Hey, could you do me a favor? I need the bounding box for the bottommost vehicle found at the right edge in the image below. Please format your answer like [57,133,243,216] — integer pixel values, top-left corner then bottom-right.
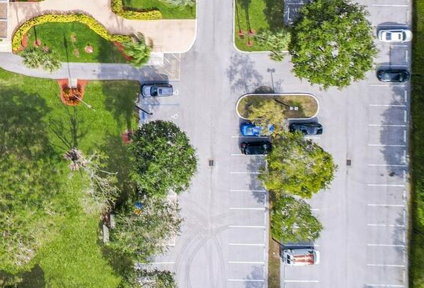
[375,68,410,83]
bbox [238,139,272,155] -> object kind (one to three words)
car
